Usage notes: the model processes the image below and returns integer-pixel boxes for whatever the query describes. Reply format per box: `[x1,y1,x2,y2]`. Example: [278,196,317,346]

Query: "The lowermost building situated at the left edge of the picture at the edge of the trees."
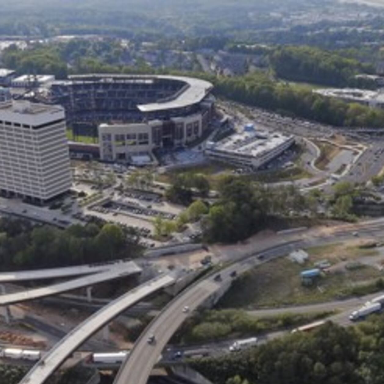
[0,99,75,205]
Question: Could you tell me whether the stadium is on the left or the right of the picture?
left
